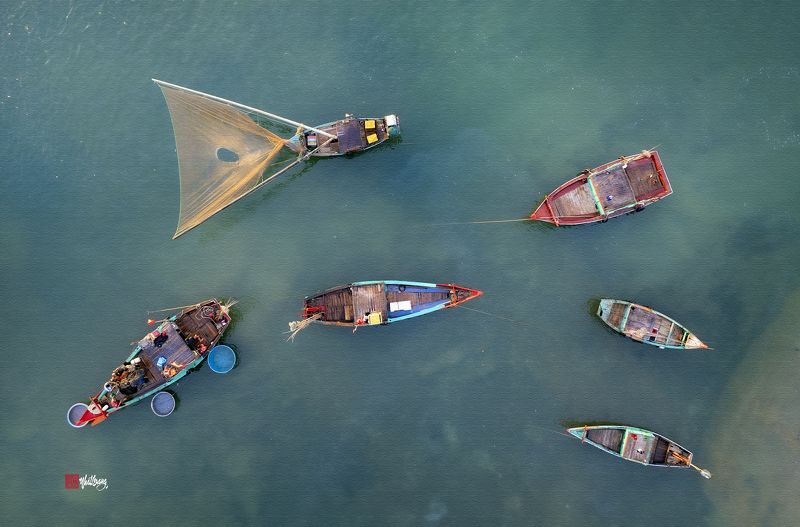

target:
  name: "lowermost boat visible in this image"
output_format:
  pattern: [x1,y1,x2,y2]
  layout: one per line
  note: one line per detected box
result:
[567,424,694,468]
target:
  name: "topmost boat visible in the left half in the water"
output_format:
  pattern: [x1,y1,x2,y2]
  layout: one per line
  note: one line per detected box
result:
[152,78,400,239]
